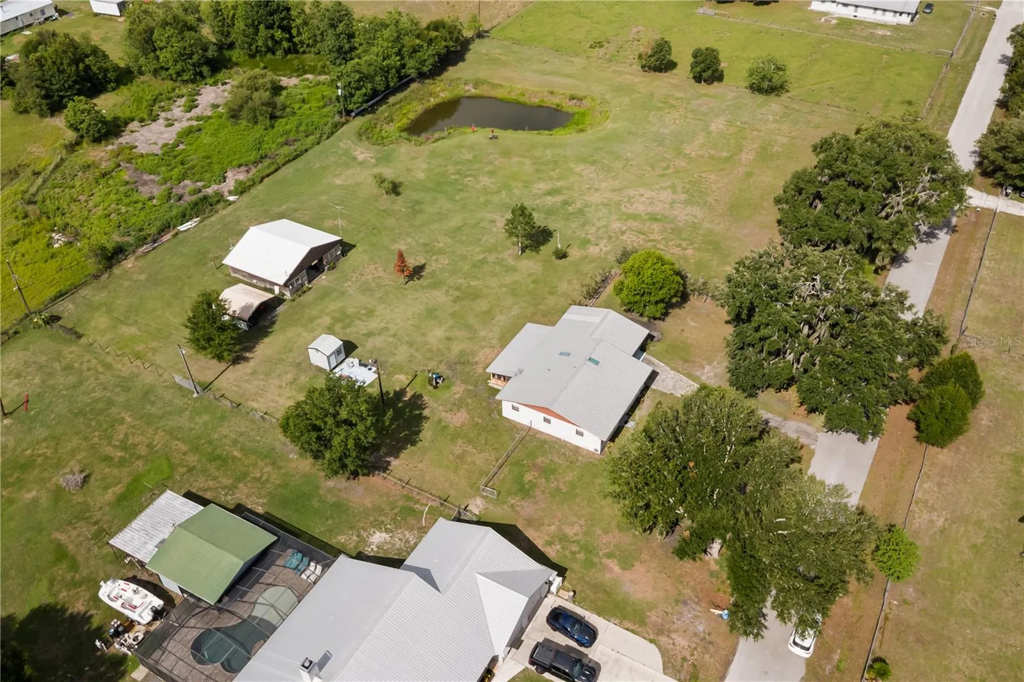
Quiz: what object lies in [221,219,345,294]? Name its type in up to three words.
barn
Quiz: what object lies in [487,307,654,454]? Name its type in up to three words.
house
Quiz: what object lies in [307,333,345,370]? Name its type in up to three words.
shed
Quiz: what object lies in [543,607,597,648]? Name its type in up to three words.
car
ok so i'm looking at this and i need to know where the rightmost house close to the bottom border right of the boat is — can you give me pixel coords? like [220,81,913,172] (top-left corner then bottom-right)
[228,518,556,682]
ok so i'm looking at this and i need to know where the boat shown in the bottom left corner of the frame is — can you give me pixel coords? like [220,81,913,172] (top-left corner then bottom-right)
[99,583,164,624]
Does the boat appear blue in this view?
No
